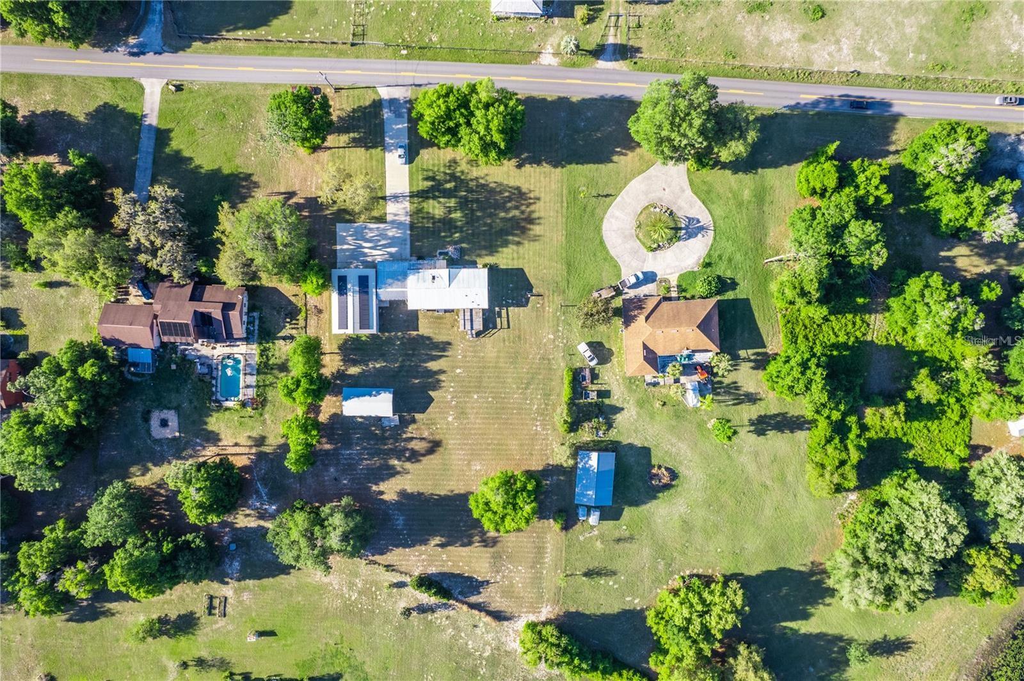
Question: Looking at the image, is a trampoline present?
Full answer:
No, I can see no trampoline in this picture.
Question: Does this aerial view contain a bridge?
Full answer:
No, the photo shows no bridge.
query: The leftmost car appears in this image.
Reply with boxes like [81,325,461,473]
[135,279,153,302]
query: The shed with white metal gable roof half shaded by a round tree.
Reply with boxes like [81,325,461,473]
[574,448,615,506]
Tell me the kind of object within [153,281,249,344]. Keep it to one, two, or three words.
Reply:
house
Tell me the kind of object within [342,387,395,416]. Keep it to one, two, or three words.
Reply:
barn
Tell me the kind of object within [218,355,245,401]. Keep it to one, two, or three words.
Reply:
swimming pool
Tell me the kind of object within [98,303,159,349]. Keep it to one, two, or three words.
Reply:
building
